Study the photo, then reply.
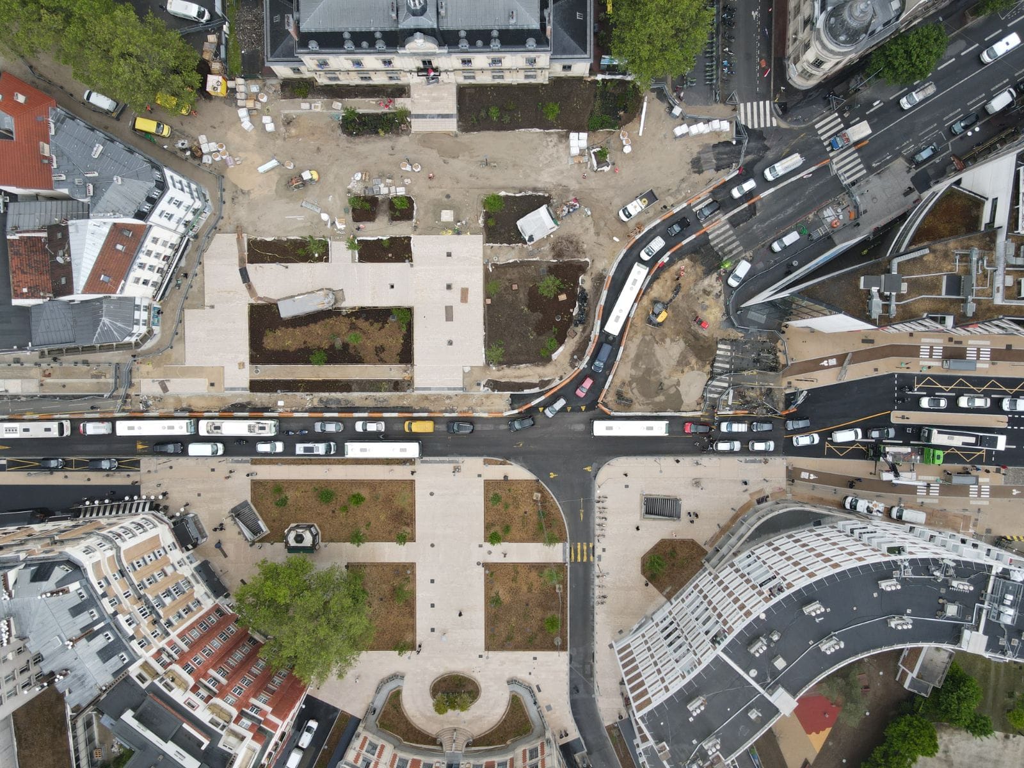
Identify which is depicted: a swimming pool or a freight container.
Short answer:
freight container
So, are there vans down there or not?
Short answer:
Yes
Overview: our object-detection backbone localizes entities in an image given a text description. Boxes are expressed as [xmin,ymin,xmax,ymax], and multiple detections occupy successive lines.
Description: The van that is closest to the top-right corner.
[980,29,1024,62]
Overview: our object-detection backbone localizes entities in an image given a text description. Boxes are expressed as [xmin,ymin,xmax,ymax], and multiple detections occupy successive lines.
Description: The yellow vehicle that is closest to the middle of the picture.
[404,419,435,435]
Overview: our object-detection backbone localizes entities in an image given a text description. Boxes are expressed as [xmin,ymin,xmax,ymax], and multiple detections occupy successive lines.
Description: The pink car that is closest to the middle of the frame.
[574,374,596,398]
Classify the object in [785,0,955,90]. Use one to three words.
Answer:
building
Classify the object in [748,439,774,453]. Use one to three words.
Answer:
car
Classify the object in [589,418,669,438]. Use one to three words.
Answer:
bus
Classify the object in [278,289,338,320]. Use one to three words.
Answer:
shipping container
